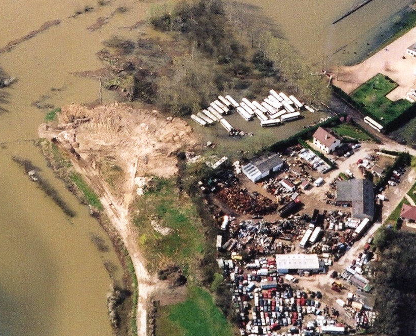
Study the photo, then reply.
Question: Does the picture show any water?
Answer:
Yes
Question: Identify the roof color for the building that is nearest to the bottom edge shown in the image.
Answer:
white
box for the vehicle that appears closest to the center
[211,158,228,171]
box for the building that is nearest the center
[241,164,261,189]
